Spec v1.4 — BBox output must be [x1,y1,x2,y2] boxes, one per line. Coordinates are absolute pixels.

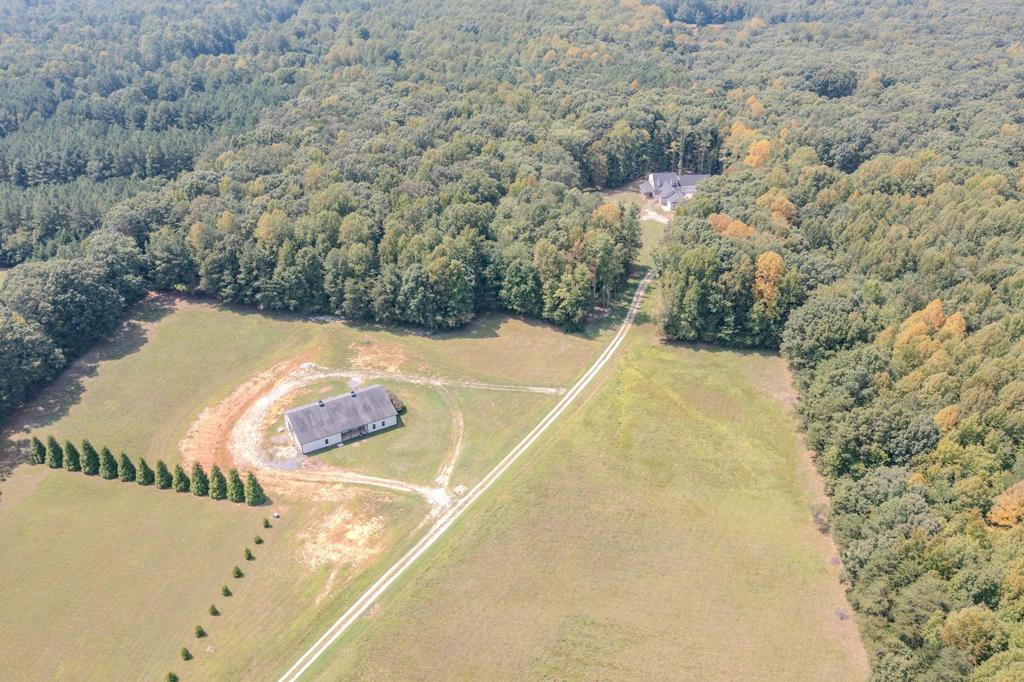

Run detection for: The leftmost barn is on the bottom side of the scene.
[286,387,399,454]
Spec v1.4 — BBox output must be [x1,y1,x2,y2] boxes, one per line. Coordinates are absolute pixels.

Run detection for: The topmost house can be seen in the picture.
[640,178,708,211]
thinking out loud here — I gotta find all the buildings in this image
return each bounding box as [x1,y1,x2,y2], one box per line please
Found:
[640,178,708,211]
[286,387,399,454]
